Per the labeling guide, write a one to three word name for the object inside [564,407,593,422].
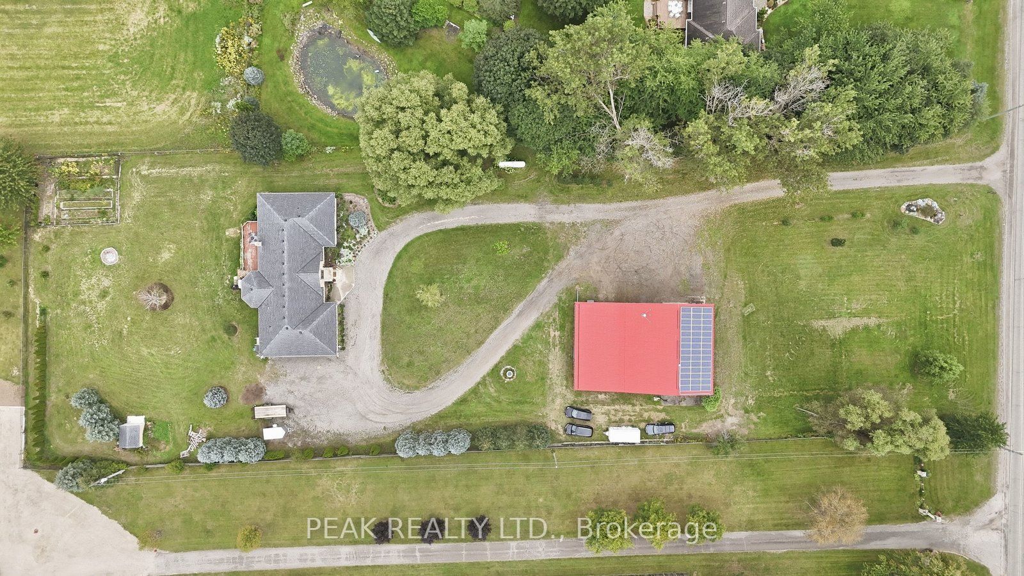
car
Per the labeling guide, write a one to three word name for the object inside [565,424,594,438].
car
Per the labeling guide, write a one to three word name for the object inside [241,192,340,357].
house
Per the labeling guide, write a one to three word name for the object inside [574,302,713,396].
barn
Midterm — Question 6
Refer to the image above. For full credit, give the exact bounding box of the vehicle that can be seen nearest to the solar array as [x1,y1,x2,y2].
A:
[646,423,676,436]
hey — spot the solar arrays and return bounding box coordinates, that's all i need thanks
[677,305,713,396]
